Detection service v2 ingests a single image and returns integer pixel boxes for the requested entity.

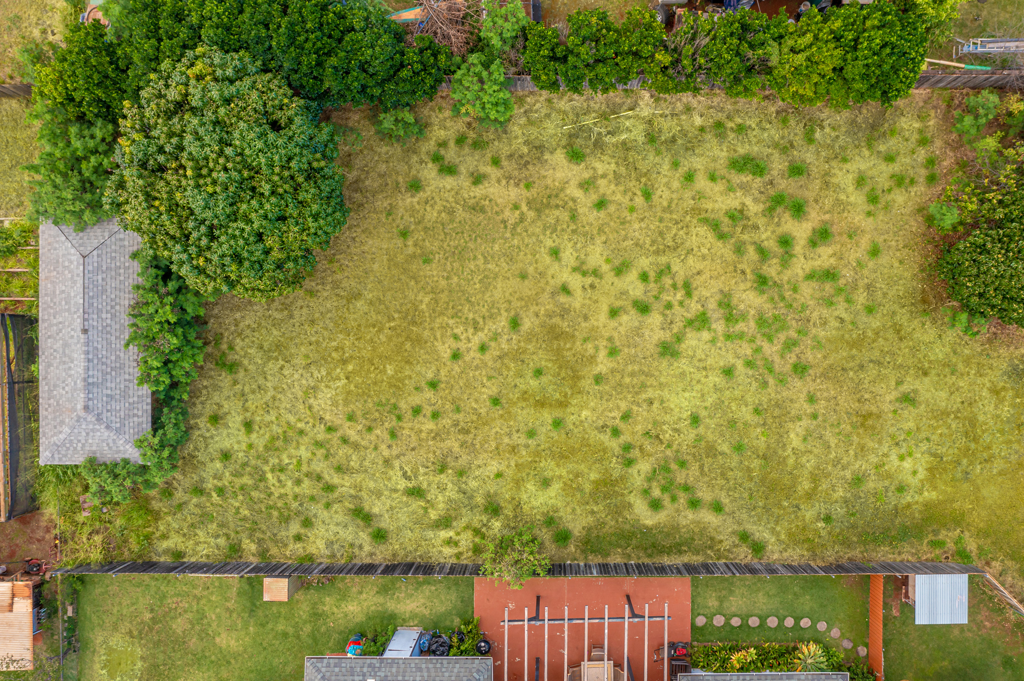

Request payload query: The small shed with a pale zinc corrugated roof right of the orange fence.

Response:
[899,569,968,625]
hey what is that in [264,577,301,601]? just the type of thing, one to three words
shed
